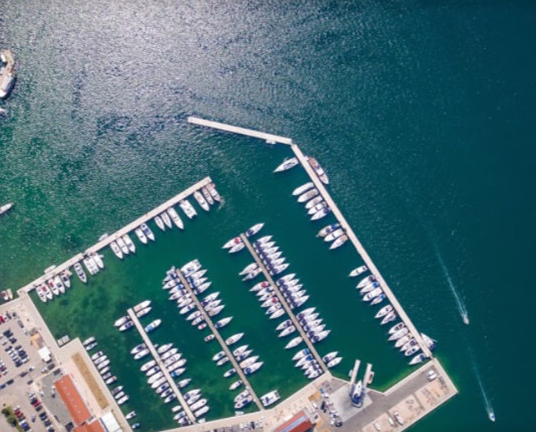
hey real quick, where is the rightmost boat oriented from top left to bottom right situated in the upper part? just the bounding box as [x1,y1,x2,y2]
[306,154,329,183]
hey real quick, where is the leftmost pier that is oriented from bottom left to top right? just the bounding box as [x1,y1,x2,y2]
[19,252,85,296]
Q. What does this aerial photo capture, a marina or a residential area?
marina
